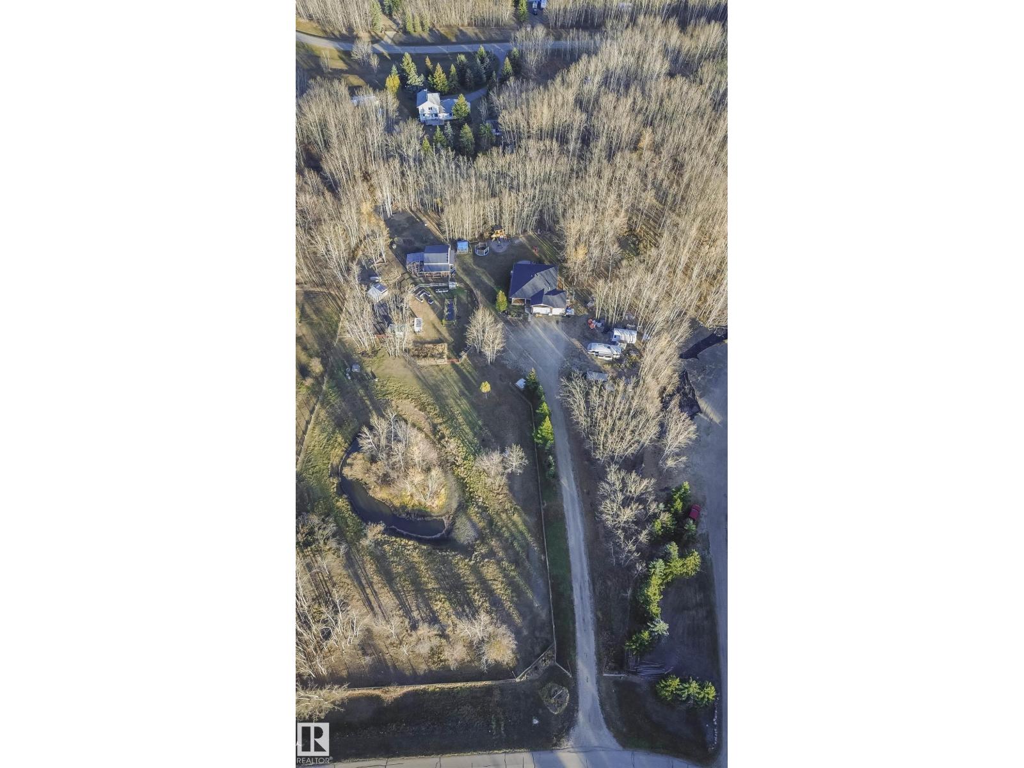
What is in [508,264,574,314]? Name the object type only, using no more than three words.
house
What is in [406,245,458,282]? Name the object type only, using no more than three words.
barn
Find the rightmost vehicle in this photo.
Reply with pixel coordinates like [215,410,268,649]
[689,500,702,525]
